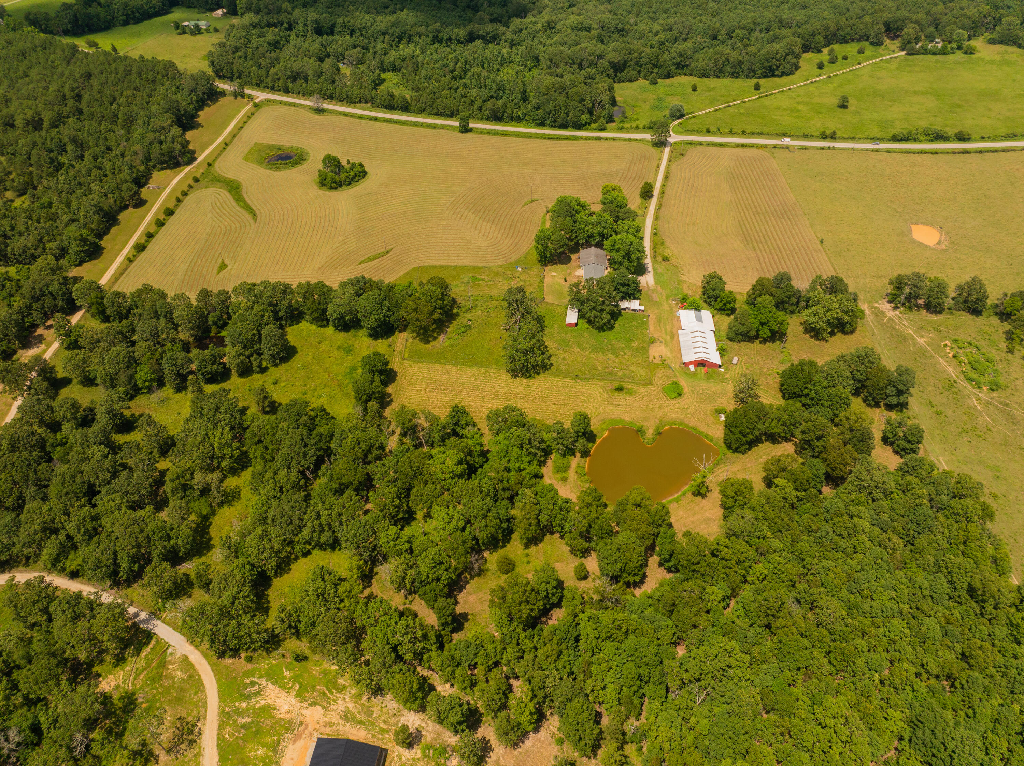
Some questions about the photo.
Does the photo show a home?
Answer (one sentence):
Yes, looking at the shot, I can spot a home.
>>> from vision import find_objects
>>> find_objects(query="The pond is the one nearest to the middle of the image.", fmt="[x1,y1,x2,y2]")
[586,427,720,509]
